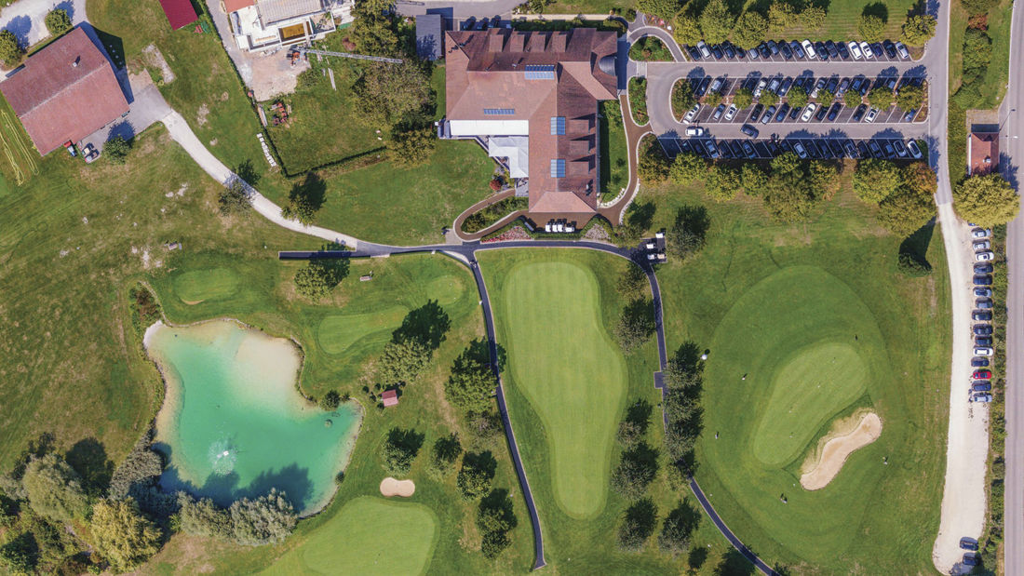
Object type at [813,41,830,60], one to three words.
car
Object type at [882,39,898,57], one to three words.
car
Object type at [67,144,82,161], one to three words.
work vehicle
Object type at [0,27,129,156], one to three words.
barn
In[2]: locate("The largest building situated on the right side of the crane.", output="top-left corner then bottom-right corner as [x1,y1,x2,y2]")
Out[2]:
[445,28,616,212]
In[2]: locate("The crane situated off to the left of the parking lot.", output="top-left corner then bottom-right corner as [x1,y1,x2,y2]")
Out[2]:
[289,45,403,68]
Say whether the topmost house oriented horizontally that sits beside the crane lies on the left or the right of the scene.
left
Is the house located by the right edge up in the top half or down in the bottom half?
top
